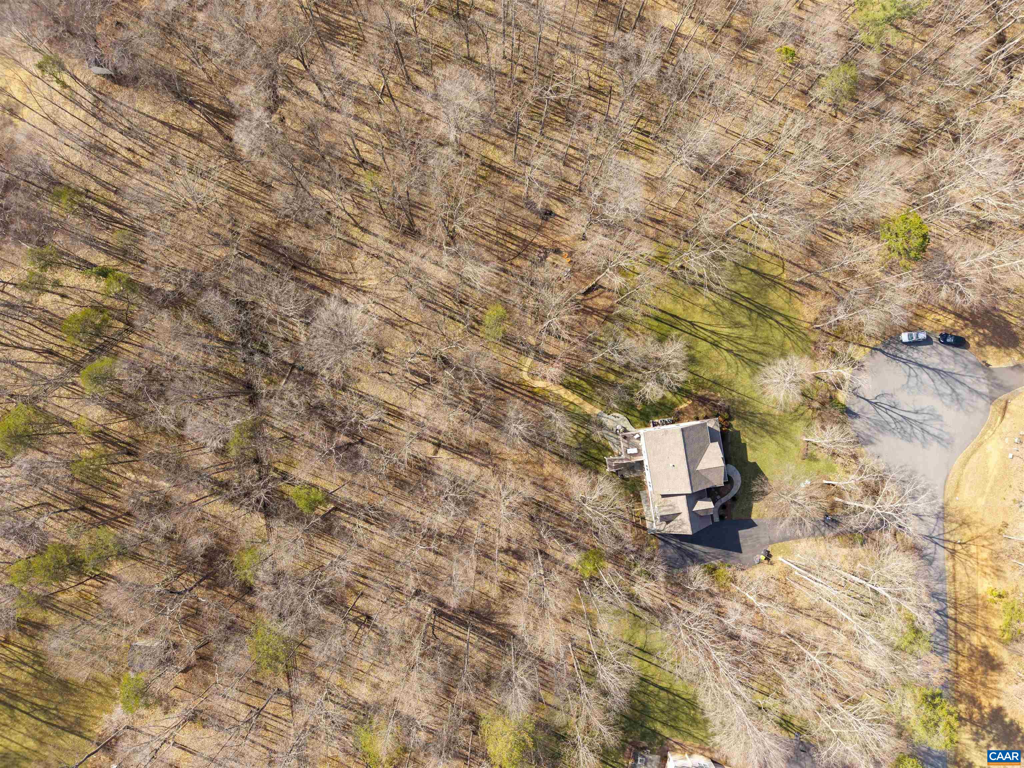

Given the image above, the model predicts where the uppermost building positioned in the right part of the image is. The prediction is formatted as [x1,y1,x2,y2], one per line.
[604,417,729,535]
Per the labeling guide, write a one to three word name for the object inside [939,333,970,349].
car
